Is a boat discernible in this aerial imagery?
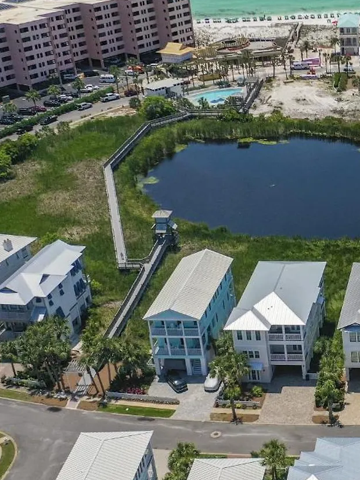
No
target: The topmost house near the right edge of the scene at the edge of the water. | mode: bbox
[337,13,360,54]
